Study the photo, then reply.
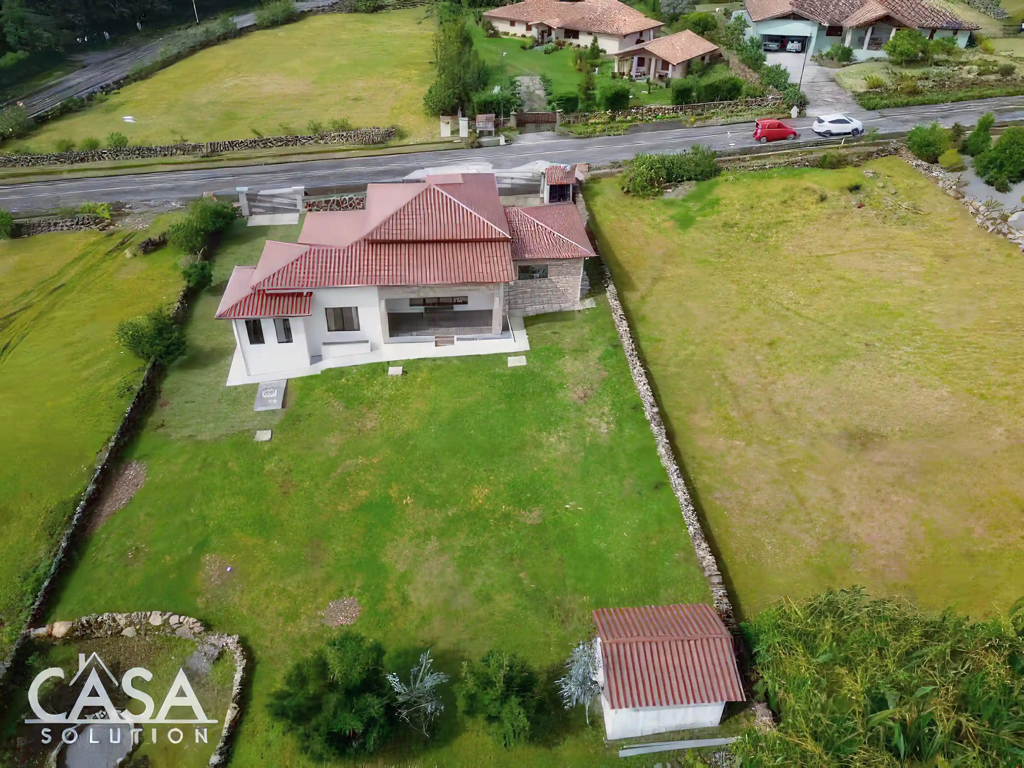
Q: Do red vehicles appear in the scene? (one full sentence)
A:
Yes, there is a red vehicle in the image.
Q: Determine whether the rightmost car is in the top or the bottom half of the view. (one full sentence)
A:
It is in the top half that the rightmost car appears.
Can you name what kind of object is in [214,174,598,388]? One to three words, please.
house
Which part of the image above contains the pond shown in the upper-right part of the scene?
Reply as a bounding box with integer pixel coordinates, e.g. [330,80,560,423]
[961,143,1024,219]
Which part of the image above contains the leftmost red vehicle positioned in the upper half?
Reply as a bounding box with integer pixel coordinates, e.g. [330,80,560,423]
[753,119,802,143]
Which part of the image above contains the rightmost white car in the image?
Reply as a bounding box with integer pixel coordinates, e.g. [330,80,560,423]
[814,114,871,138]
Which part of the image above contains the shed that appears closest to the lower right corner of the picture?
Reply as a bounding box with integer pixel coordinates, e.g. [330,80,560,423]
[586,602,748,744]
